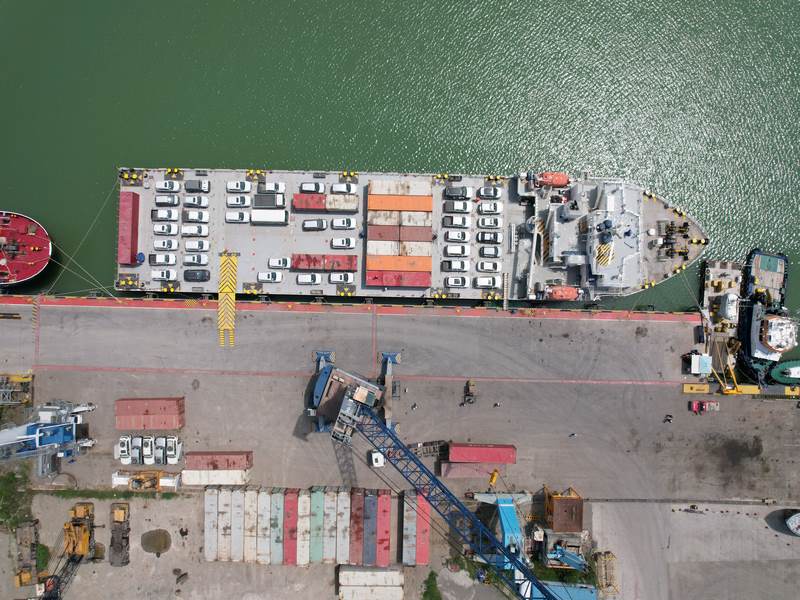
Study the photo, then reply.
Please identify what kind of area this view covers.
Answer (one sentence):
The picture captures a port.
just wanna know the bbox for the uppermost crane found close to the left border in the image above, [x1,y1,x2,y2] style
[0,399,101,477]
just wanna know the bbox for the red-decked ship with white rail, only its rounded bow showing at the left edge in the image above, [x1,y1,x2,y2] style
[0,212,61,283]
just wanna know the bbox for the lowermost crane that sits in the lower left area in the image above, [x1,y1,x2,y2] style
[17,501,109,600]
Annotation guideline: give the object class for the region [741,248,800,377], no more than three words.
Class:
boat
